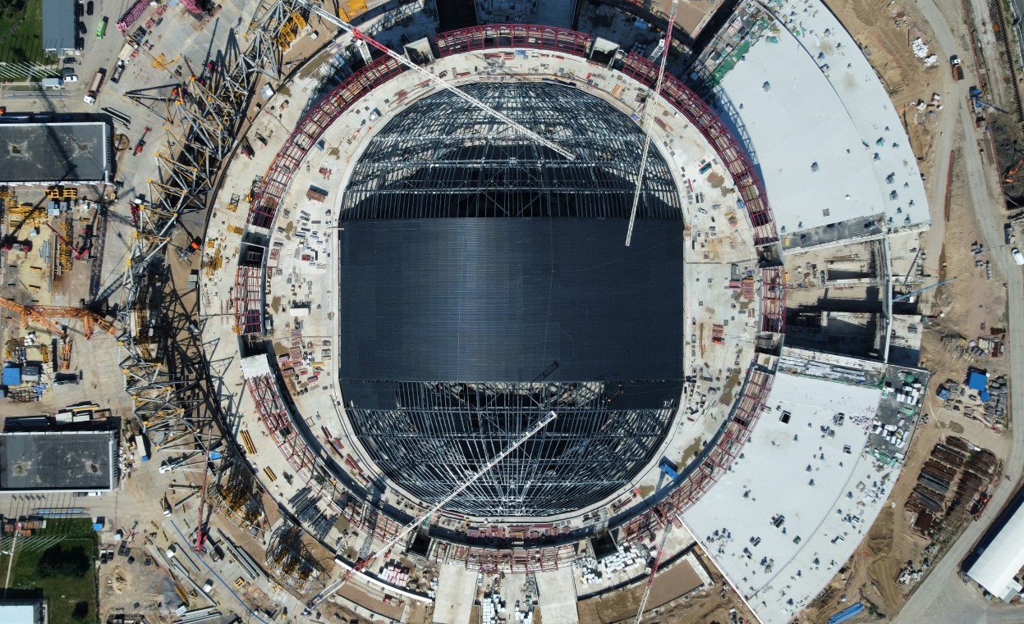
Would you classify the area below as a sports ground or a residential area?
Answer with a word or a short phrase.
sports ground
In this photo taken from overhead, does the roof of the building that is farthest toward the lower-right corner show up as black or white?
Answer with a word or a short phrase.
white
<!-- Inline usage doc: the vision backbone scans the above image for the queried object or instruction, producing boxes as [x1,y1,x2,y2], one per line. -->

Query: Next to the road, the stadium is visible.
[193,0,930,624]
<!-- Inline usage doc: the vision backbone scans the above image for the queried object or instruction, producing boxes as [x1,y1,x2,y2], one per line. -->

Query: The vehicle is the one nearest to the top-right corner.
[951,53,969,80]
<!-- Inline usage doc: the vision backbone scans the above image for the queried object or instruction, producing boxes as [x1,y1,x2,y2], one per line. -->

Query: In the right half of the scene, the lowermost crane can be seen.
[633,522,672,624]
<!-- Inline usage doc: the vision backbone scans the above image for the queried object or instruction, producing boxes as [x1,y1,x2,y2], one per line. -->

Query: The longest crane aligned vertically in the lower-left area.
[188,423,222,570]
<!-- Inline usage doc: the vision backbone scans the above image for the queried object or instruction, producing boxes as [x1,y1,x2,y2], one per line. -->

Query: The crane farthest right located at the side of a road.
[964,82,1009,116]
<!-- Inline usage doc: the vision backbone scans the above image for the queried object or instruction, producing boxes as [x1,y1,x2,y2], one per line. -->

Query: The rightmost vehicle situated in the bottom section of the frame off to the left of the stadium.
[130,435,148,464]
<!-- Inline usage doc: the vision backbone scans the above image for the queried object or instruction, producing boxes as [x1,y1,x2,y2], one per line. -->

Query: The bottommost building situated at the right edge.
[954,470,1024,604]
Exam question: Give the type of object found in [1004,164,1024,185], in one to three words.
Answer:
work vehicle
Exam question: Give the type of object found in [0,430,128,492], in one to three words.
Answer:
building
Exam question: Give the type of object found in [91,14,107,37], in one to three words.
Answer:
vehicle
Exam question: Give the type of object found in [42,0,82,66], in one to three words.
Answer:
building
